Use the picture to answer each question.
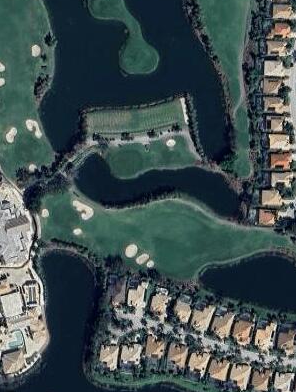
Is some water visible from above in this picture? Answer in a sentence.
Yes, some water is visible.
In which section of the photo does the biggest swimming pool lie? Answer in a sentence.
The biggest swimming pool is in the bottom left part of the image.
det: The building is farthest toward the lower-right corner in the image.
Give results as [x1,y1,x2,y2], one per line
[275,372,294,392]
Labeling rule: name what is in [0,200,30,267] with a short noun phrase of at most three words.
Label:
building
